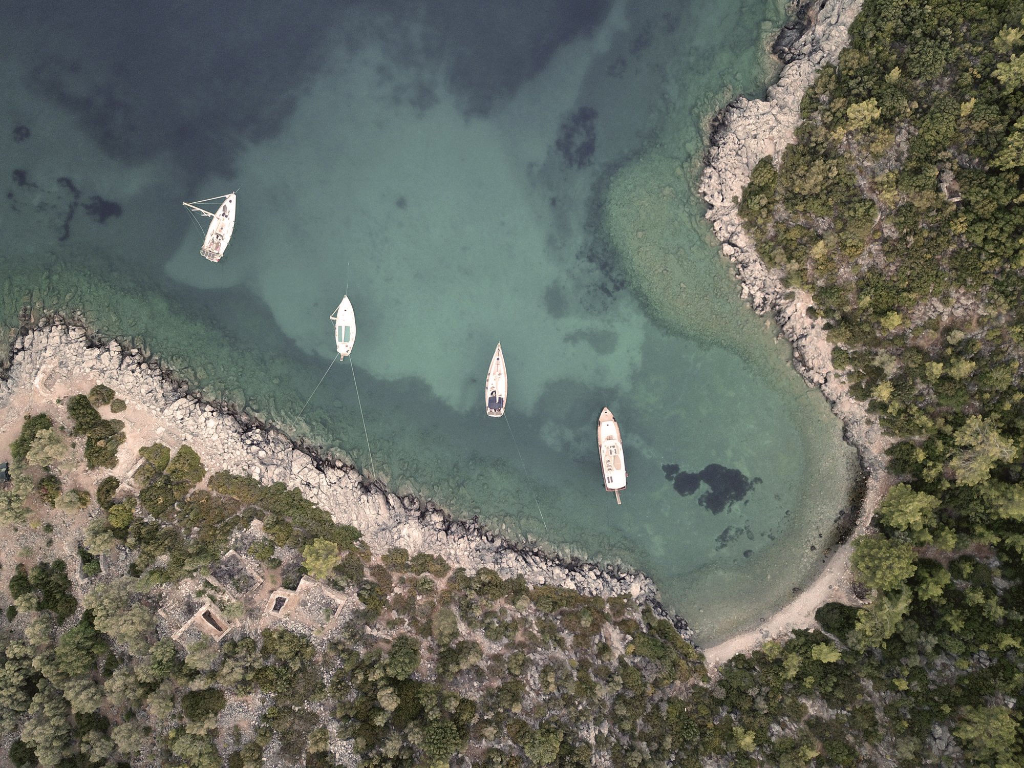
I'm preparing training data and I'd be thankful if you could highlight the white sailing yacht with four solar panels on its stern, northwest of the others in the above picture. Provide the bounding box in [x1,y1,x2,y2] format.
[183,191,238,262]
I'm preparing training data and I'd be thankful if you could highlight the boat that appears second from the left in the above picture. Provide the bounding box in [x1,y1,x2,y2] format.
[329,295,356,361]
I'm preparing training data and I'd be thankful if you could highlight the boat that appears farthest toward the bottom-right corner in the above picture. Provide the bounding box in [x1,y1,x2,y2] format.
[598,406,628,504]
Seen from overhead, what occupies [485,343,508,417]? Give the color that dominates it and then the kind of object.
white boat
